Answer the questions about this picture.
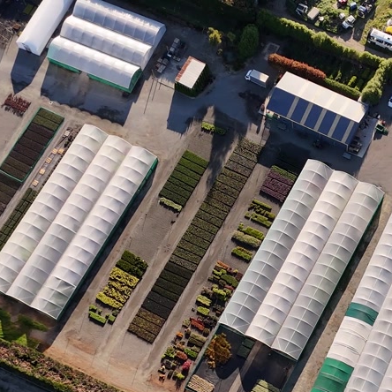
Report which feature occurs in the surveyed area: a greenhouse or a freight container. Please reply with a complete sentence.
This aerial view contains a greenhouse.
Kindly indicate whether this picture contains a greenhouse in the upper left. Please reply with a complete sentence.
Yes, you'll find a greenhouse in the upper left.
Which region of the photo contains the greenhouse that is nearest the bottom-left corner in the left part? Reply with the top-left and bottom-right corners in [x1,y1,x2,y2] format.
[0,125,158,321]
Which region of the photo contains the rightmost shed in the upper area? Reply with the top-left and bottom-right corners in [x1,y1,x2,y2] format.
[263,71,370,152]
